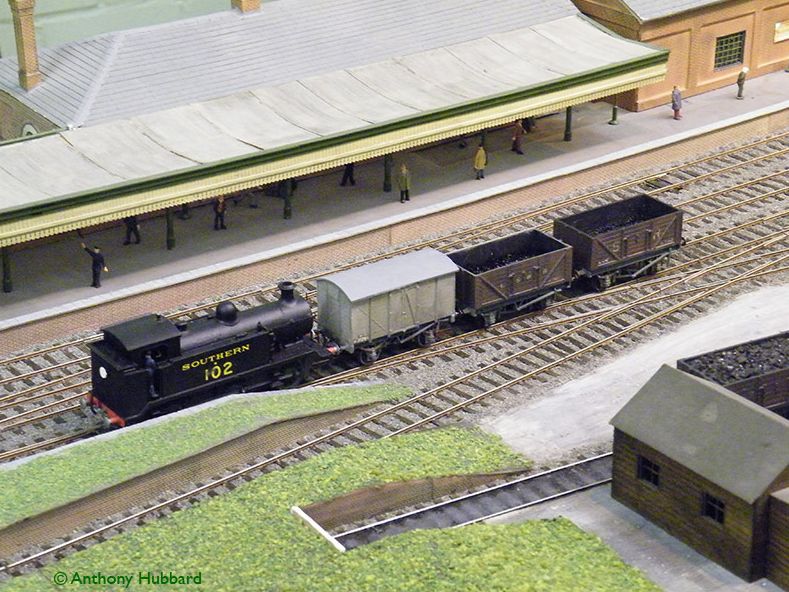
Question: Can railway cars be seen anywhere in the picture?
Yes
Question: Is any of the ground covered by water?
No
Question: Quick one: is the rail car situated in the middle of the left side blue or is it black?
black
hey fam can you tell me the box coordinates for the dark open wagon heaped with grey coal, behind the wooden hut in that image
[683,331,789,419]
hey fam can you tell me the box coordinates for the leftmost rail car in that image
[82,281,340,426]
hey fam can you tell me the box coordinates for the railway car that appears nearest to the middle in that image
[444,226,576,327]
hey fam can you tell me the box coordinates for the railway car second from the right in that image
[556,193,684,290]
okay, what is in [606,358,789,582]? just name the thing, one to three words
shed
